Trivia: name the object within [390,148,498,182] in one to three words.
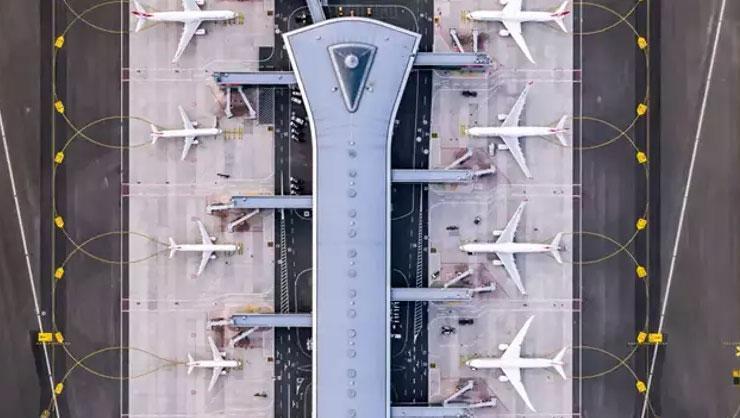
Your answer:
jet bridge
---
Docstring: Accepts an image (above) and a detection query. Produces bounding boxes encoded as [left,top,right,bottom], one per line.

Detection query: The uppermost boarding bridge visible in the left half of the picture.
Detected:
[215,71,298,121]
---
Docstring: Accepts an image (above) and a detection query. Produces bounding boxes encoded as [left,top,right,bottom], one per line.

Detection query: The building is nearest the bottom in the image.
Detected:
[282,17,421,418]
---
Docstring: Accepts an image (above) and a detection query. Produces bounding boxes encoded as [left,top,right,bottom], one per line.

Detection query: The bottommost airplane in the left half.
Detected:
[186,337,241,391]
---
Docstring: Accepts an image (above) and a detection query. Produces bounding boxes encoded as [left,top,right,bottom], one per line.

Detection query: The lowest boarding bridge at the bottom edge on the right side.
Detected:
[390,378,499,418]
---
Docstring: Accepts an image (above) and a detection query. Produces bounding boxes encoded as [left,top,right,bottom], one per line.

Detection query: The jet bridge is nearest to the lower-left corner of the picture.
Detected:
[205,313,313,351]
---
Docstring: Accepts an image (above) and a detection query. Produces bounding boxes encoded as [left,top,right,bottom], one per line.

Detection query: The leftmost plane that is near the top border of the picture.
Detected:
[134,0,238,61]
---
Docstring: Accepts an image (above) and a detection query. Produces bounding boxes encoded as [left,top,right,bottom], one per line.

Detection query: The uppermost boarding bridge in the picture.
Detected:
[410,26,492,68]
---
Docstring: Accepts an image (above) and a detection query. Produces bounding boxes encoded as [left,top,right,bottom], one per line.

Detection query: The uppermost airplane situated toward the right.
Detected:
[467,0,569,64]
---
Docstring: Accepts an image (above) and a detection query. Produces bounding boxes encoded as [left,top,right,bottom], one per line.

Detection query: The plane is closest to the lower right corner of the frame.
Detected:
[466,315,568,413]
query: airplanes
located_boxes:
[460,200,564,294]
[465,83,569,178]
[169,219,240,276]
[186,337,241,391]
[466,315,568,413]
[467,0,569,64]
[151,104,222,159]
[134,0,238,61]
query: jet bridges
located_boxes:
[390,148,498,182]
[390,378,499,418]
[205,196,313,233]
[390,265,499,302]
[215,71,298,121]
[205,313,313,351]
[410,26,492,68]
